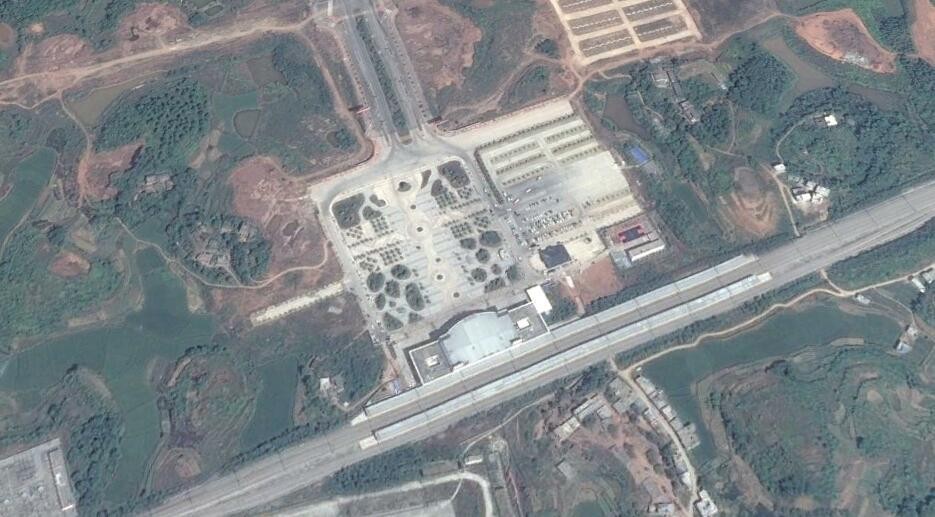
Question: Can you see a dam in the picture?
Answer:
No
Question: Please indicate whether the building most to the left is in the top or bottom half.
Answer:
bottom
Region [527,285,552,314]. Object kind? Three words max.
building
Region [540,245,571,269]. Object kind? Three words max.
building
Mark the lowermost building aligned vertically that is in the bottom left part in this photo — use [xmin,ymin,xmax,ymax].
[50,449,75,510]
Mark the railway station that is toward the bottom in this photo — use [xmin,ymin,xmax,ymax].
[409,301,549,385]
